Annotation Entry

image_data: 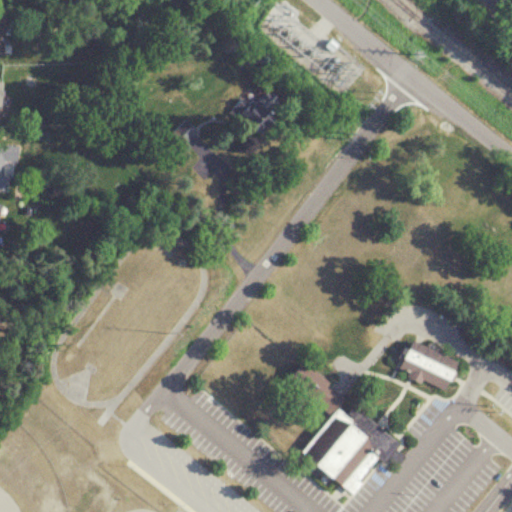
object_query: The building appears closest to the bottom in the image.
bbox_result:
[303,408,381,496]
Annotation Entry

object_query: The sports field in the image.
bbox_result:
[52,238,206,426]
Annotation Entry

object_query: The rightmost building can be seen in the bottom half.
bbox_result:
[402,342,460,390]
